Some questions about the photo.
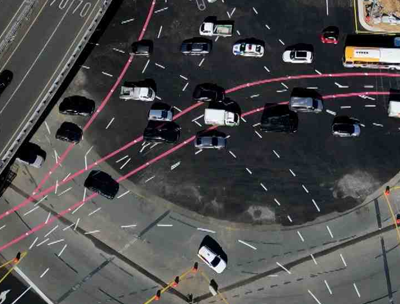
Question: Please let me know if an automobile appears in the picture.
Yes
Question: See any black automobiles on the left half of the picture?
Yes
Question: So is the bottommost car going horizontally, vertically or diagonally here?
diagonally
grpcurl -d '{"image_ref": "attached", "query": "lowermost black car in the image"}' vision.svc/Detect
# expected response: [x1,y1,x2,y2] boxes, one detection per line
[85,174,119,197]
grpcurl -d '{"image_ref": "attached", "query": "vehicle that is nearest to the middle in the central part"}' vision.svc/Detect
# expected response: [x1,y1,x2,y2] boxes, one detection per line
[194,134,228,149]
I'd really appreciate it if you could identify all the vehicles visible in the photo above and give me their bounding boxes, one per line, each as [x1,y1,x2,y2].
[194,134,228,149]
[131,42,154,56]
[388,101,400,117]
[61,100,93,115]
[205,109,239,127]
[320,31,341,43]
[85,174,119,197]
[121,87,155,102]
[291,96,323,113]
[201,22,232,37]
[392,36,400,46]
[193,87,226,103]
[148,108,173,122]
[342,45,400,68]
[145,125,180,140]
[181,42,212,57]
[196,245,229,277]
[55,128,84,143]
[233,42,264,57]
[282,49,313,64]
[330,121,362,136]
